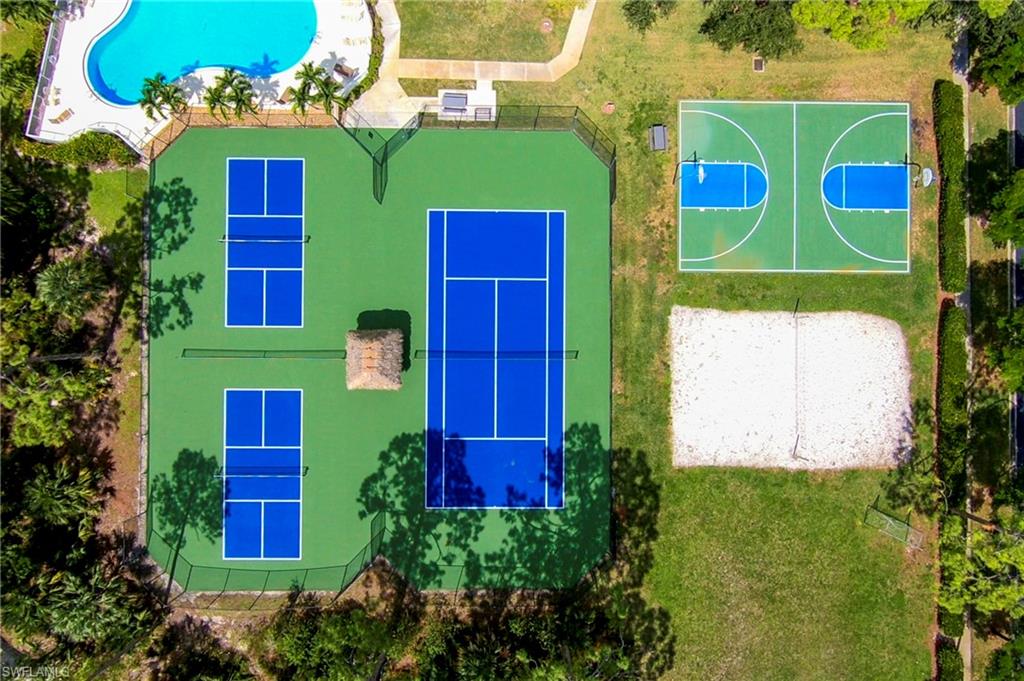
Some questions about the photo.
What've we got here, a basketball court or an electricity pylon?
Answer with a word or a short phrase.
basketball court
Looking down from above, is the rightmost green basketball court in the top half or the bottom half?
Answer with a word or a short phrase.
top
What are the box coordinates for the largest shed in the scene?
[345,329,403,391]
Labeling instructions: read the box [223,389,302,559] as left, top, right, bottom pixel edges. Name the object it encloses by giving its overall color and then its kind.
blue sports court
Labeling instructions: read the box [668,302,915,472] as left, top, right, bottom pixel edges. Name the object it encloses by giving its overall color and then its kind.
white sports court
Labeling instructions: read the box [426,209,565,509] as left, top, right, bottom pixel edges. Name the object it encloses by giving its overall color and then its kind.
blue tennis court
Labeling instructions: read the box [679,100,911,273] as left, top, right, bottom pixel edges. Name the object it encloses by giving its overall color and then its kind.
green basketball court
